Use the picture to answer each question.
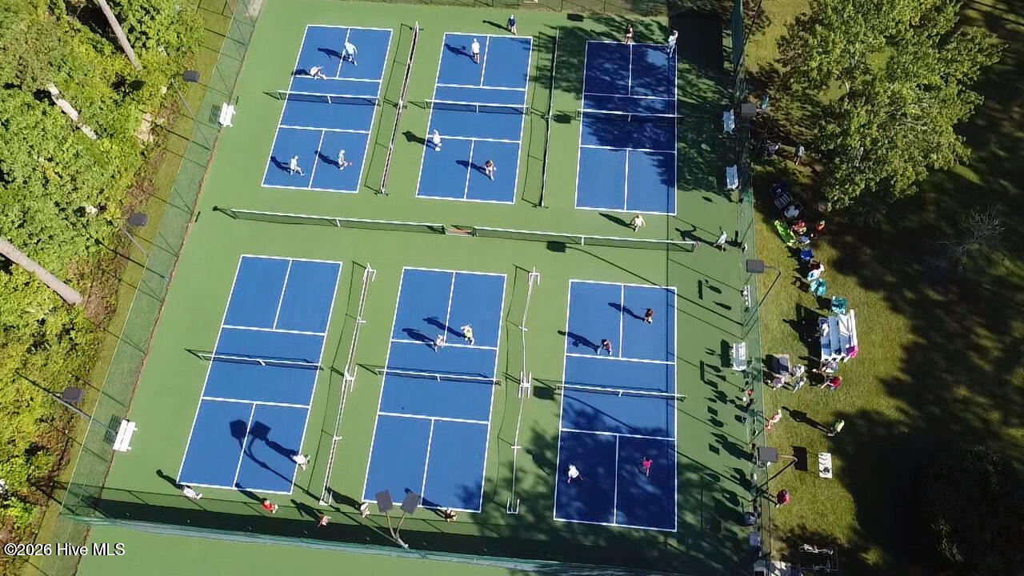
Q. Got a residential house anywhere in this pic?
No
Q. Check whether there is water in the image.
No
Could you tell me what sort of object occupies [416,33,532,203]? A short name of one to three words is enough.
sports court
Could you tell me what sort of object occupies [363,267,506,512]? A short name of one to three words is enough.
sports court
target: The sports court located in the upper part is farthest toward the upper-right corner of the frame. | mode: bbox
[576,41,676,215]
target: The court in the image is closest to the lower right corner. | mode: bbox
[554,280,676,531]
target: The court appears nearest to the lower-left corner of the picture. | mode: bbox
[178,255,342,494]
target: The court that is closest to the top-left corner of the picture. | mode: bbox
[262,25,392,192]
